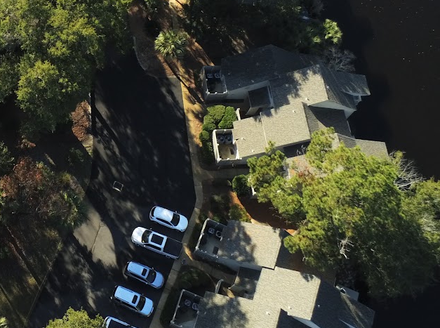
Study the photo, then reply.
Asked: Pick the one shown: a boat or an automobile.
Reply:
automobile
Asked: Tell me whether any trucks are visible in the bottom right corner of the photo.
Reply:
No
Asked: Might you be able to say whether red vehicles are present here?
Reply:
No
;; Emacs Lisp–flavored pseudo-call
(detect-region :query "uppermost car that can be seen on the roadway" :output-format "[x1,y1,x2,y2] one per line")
[147,205,190,234]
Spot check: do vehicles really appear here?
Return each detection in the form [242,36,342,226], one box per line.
[129,226,183,260]
[101,315,138,328]
[147,205,190,234]
[122,258,166,290]
[109,285,155,317]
